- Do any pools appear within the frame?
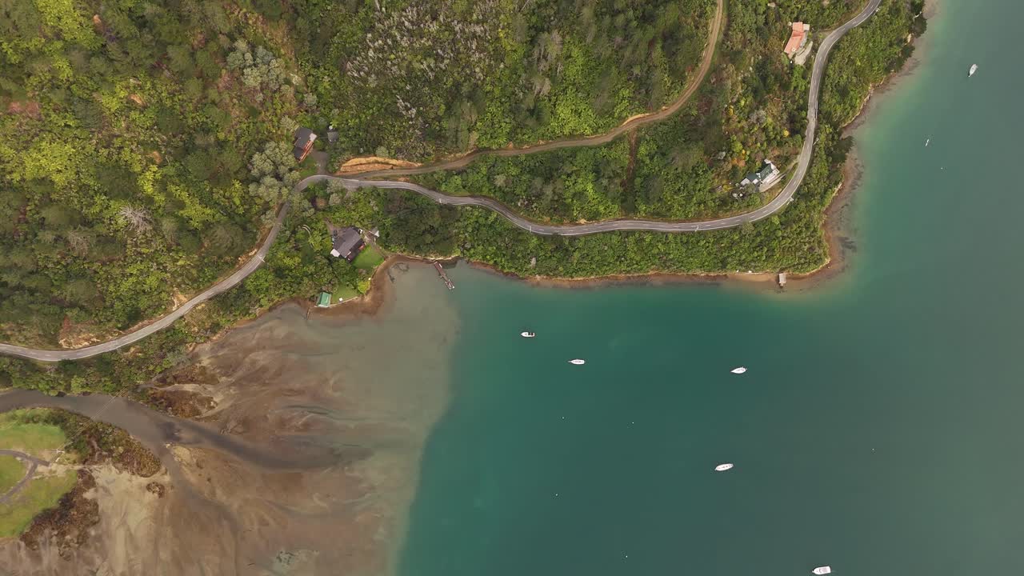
No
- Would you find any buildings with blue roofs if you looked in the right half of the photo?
No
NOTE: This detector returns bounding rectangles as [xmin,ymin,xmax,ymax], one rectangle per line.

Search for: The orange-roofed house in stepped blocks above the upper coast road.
[784,22,810,59]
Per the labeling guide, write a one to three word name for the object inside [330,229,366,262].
house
